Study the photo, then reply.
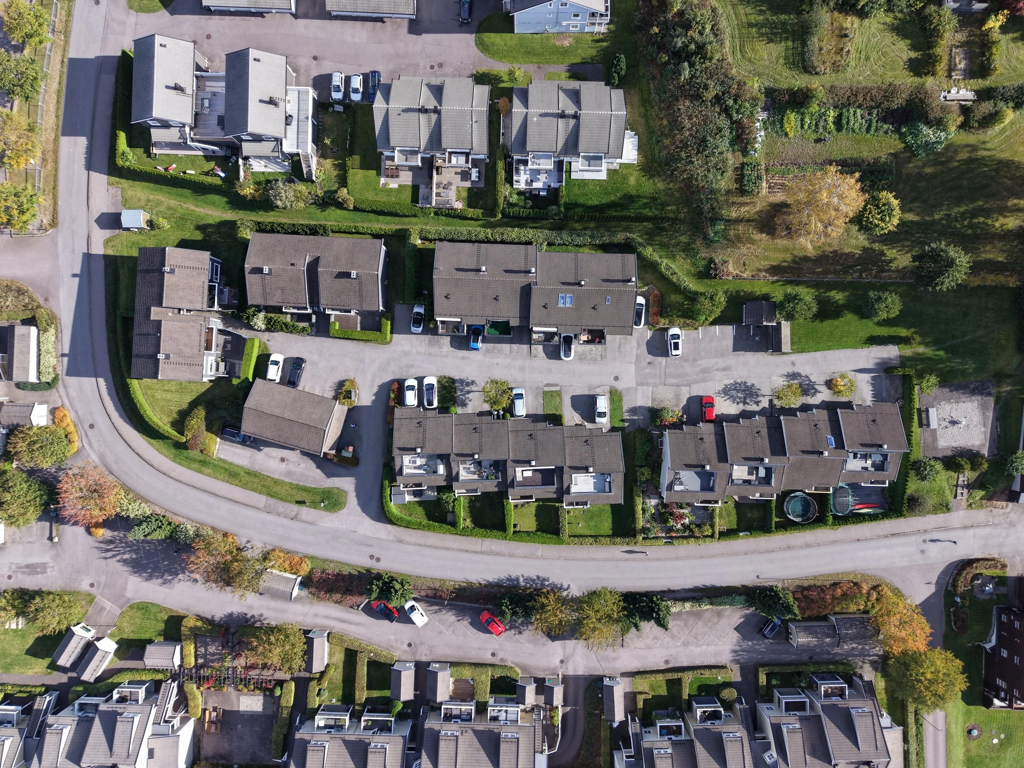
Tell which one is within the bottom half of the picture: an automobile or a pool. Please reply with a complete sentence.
The feature located within the bottom half of the picture is an automobile.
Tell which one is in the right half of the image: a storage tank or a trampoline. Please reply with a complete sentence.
You can see a trampoline in the right half of the image.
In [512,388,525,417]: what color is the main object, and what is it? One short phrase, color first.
white vehicle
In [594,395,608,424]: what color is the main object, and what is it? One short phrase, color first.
white car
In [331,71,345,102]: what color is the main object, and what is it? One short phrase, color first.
white car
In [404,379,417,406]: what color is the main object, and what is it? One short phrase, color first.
white vehicle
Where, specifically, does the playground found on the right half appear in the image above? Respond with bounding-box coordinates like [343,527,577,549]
[918,379,997,458]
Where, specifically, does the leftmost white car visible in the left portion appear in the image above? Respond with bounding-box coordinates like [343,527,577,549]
[268,354,284,382]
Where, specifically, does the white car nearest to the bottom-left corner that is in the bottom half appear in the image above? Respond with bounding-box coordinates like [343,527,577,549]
[405,600,428,628]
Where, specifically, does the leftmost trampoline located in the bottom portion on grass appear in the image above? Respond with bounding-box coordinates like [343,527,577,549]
[785,494,817,524]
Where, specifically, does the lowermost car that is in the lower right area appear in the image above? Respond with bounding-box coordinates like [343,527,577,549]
[759,614,783,641]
